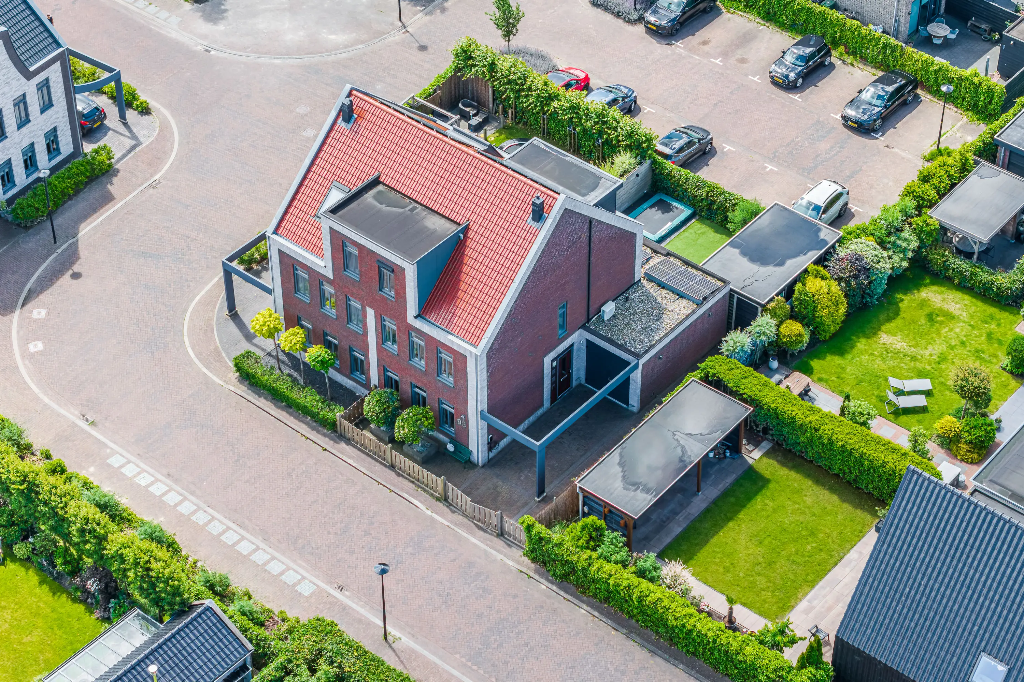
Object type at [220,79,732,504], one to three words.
house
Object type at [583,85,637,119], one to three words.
car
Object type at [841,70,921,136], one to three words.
car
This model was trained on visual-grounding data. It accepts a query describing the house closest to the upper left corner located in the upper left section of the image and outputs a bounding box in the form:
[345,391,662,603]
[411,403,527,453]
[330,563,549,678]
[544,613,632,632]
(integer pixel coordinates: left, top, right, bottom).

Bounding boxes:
[0,0,128,204]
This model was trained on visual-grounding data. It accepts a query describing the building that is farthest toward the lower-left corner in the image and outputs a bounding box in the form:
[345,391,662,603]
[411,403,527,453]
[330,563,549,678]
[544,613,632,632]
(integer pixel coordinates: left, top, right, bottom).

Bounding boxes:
[35,592,258,682]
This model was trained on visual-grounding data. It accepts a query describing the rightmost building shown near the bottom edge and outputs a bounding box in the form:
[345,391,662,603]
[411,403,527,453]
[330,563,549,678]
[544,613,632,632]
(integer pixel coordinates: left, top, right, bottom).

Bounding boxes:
[834,458,1024,682]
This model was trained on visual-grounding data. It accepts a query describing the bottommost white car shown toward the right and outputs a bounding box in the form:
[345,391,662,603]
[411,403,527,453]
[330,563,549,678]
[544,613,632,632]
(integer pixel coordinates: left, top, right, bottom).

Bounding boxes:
[785,180,851,225]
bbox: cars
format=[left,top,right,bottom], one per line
[654,127,713,177]
[583,85,637,119]
[642,0,717,39]
[767,33,833,89]
[841,70,921,136]
[74,92,110,133]
[785,180,851,225]
[537,65,589,97]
